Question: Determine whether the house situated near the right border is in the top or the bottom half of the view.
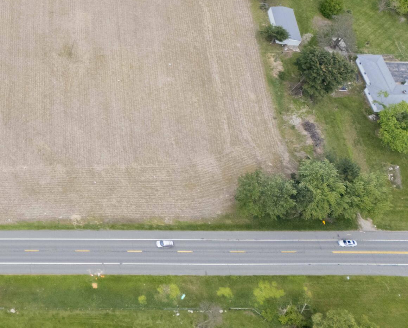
top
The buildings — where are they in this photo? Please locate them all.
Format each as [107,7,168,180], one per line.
[356,56,408,113]
[270,4,301,45]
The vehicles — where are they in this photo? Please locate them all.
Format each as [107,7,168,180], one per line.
[156,240,175,250]
[339,240,359,249]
